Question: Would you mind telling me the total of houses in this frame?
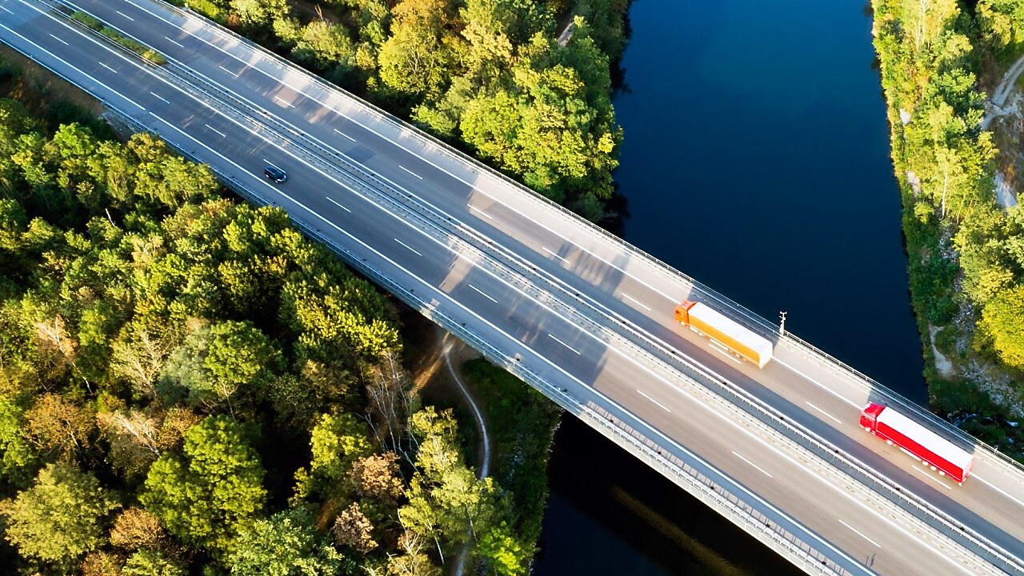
zero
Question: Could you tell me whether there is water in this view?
Yes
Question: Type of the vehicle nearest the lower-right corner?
truck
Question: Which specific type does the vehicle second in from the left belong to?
truck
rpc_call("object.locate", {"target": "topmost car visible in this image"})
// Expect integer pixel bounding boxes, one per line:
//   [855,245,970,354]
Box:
[264,165,287,183]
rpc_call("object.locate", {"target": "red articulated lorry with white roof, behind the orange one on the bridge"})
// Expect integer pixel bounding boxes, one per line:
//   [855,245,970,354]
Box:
[859,402,973,483]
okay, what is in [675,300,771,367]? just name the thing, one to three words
truck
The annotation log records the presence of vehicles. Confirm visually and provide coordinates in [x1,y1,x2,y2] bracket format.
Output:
[675,300,771,367]
[859,402,973,483]
[264,165,287,183]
